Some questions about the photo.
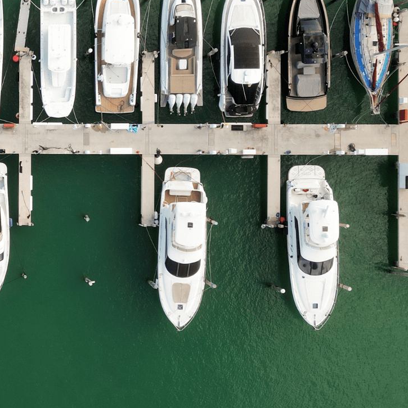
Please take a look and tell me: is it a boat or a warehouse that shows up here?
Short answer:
boat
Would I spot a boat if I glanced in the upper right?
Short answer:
Yes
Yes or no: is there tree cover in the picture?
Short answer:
No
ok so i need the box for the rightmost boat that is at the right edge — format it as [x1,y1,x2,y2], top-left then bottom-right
[353,0,408,114]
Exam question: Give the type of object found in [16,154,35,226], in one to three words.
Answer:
pier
